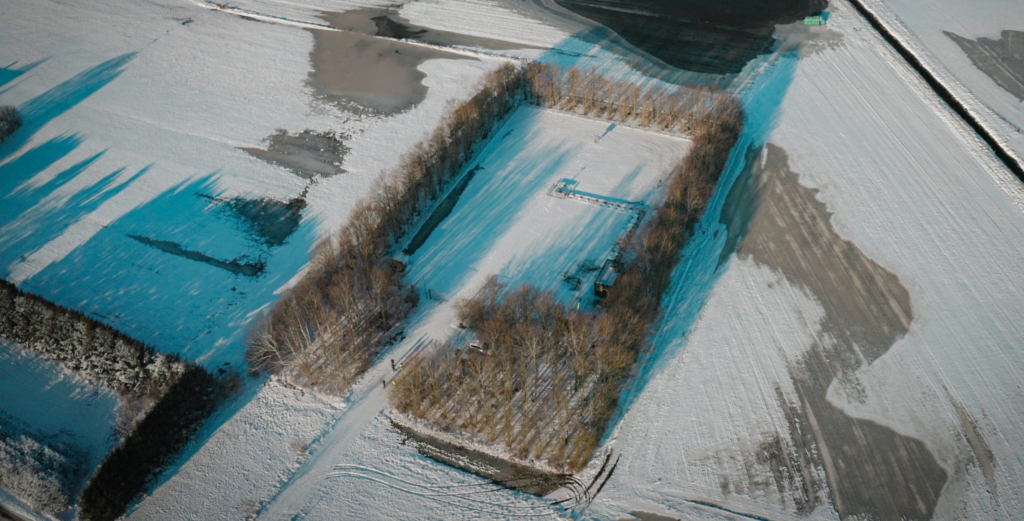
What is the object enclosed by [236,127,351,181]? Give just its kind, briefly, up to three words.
pond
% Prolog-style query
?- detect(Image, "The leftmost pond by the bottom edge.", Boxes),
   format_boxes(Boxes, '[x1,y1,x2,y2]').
[393,422,571,496]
